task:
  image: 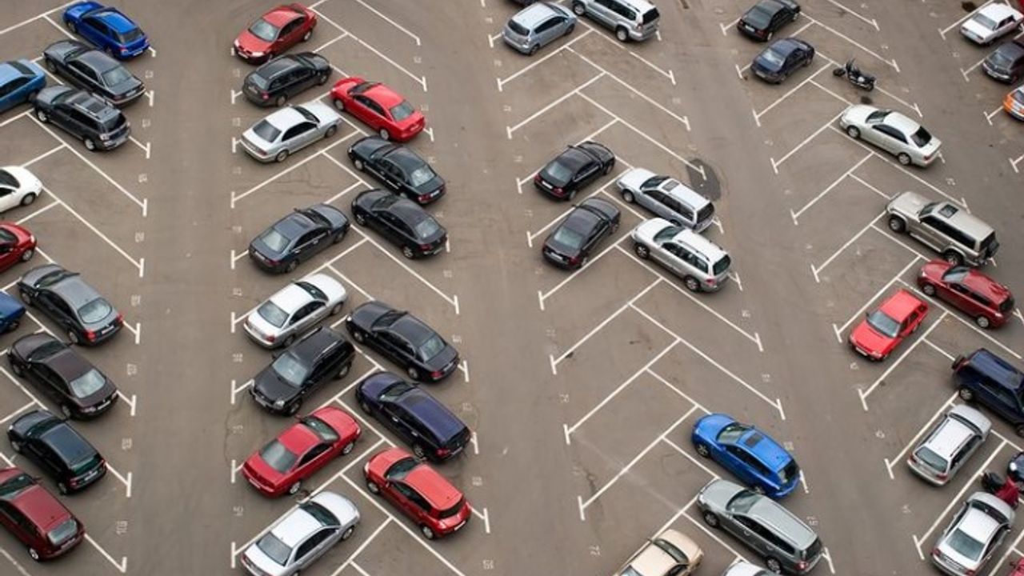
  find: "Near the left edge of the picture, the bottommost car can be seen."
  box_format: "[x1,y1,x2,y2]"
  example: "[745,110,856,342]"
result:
[0,470,85,571]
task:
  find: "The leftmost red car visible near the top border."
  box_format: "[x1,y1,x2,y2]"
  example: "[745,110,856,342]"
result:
[235,4,321,61]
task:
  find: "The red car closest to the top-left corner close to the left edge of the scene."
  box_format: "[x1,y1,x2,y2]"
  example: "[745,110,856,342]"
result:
[0,221,39,271]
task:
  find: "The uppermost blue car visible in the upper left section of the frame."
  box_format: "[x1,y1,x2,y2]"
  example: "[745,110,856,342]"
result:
[63,2,150,61]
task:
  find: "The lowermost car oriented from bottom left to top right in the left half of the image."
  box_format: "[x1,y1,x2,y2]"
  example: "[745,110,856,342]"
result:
[238,489,364,576]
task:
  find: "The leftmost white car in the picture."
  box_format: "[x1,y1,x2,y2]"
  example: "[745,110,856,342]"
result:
[0,168,40,216]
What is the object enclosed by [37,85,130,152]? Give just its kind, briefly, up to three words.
car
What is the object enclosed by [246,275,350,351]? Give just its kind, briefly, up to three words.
car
